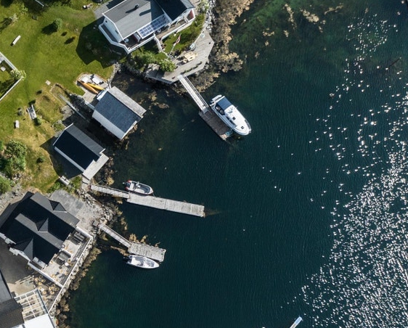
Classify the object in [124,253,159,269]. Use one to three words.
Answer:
boat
